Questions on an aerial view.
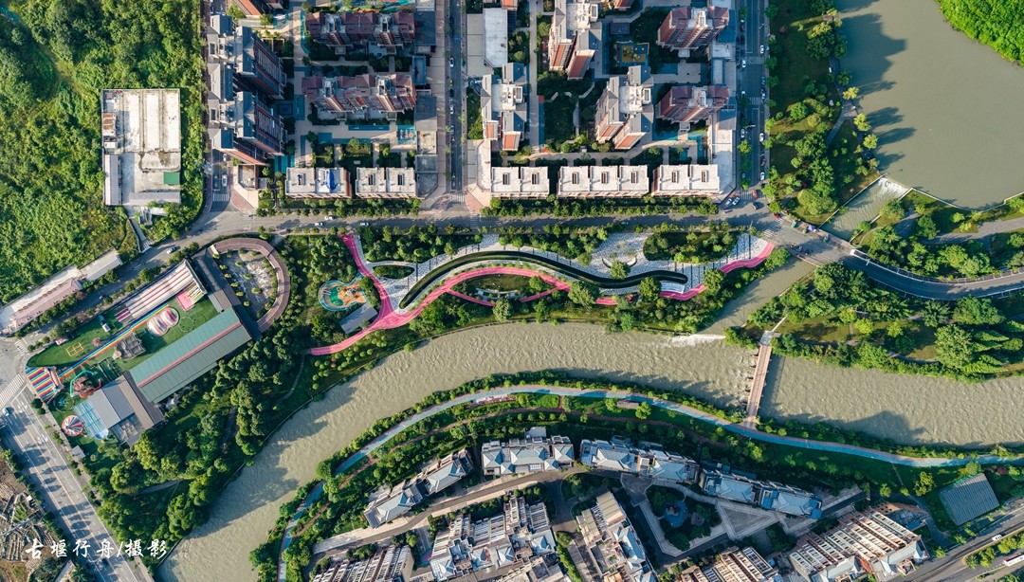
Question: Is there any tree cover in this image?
Yes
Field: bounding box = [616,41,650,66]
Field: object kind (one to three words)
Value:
playground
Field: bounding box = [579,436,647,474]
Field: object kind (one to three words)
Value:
house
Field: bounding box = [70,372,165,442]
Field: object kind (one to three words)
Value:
building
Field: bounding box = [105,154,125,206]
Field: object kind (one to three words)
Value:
shed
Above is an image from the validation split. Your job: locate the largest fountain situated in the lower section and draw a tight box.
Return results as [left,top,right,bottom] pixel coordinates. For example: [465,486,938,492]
[53,392,72,412]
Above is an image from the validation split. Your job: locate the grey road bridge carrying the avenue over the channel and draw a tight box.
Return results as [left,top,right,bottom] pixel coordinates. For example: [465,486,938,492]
[773,211,855,267]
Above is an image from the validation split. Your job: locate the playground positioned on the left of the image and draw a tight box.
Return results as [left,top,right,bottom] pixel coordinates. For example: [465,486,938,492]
[319,272,366,311]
